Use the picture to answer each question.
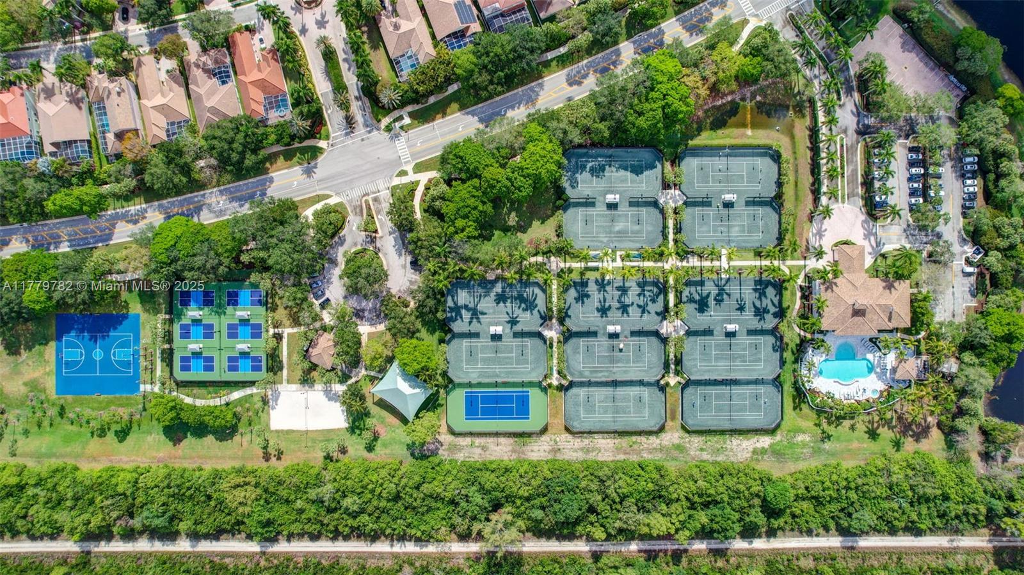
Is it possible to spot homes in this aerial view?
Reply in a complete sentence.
Yes, there's a home here.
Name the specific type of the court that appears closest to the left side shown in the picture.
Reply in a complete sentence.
I'd identify the court that appears closest to the left side as a basketball court.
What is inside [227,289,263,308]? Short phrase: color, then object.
blue sports court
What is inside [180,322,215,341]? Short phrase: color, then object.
blue sports court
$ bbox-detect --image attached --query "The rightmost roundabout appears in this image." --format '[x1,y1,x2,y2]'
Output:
[340,244,389,301]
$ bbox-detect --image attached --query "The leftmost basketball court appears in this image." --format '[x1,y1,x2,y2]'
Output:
[56,313,140,395]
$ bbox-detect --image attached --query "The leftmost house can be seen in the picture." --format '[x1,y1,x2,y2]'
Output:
[0,81,46,163]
